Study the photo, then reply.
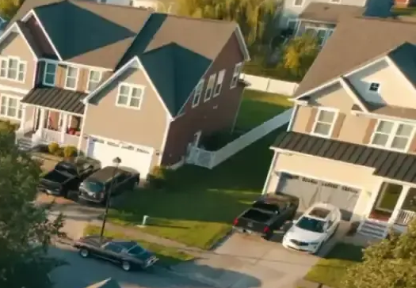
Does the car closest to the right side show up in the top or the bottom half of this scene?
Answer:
bottom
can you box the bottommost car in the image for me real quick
[76,235,158,272]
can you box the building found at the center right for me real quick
[261,16,416,235]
